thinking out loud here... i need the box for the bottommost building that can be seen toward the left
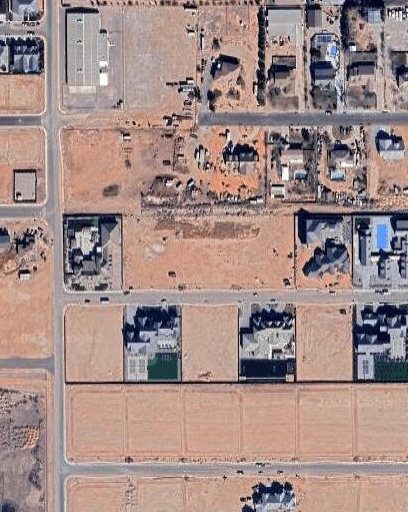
[130,312,181,354]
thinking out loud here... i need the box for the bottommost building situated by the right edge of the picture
[355,311,408,352]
